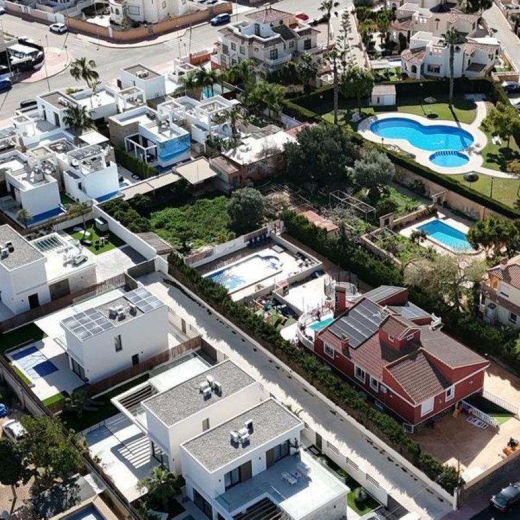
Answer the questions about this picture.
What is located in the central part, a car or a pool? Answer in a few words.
pool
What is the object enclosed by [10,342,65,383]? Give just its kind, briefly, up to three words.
swimming pool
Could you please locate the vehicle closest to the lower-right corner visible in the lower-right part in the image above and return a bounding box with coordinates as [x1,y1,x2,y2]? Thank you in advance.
[489,479,520,515]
